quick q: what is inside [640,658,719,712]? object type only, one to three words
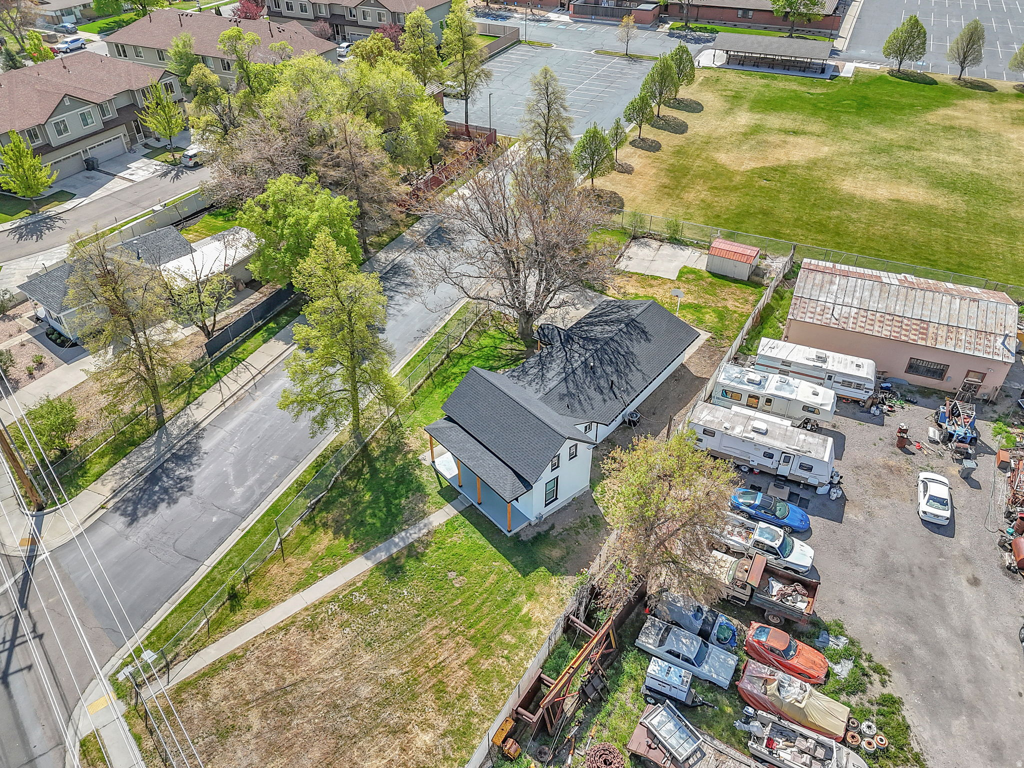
trailer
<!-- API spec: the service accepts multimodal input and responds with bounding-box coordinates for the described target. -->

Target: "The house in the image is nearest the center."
[424,299,702,537]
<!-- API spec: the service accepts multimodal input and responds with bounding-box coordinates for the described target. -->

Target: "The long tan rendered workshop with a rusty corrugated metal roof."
[782,257,1024,405]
